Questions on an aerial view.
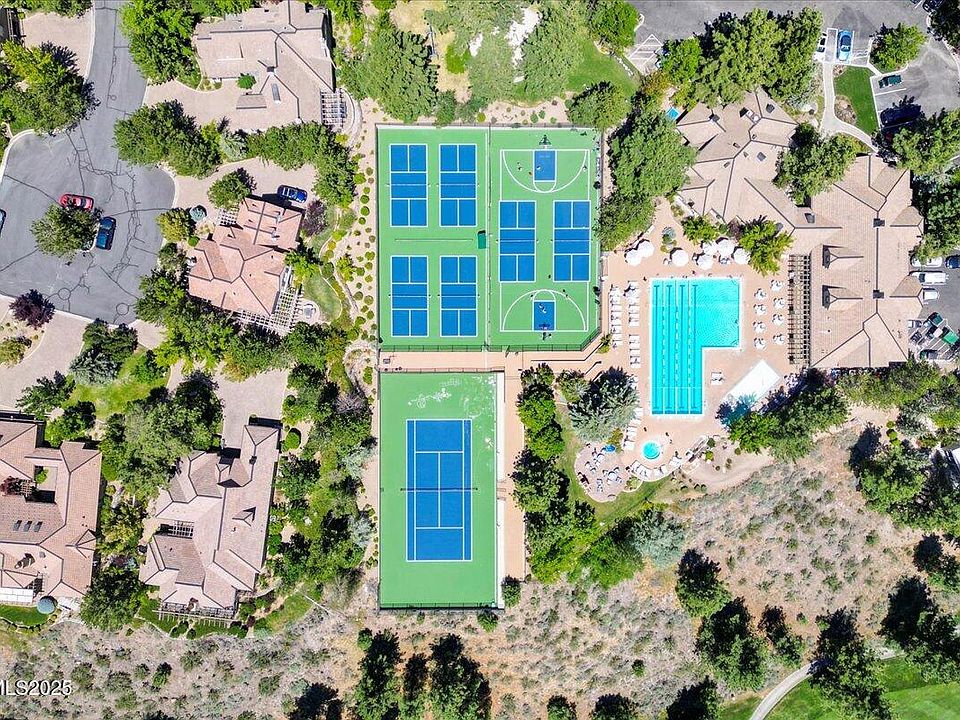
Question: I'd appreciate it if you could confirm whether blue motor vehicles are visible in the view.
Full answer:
Yes, you can see a blue motor vehicle in this photo.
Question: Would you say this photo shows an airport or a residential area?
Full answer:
The area seen from above is a residential area.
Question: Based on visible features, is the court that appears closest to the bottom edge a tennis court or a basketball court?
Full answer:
It looks like the court that appears closest to the bottom edge is a tennis court.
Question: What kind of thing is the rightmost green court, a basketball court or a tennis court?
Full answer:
It turns out the rightmost green court is a basketball court.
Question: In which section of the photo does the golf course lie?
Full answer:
The golf course appears toward the bottom right of the photo.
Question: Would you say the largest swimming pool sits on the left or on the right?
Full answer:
You can find the largest swimming pool on the right side of the picture.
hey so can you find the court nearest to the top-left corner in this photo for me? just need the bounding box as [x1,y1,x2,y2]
[387,144,429,226]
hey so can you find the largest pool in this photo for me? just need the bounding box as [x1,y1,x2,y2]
[649,276,743,417]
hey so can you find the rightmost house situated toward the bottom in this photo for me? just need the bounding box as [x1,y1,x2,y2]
[140,424,280,611]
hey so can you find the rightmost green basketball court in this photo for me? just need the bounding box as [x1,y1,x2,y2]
[489,128,599,349]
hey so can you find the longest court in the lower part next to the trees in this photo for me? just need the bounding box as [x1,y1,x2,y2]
[379,373,497,608]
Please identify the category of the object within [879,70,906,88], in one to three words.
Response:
vehicle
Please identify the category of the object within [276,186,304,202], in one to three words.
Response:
car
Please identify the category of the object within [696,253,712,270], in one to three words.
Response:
umbrella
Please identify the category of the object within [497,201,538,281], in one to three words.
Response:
sports court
